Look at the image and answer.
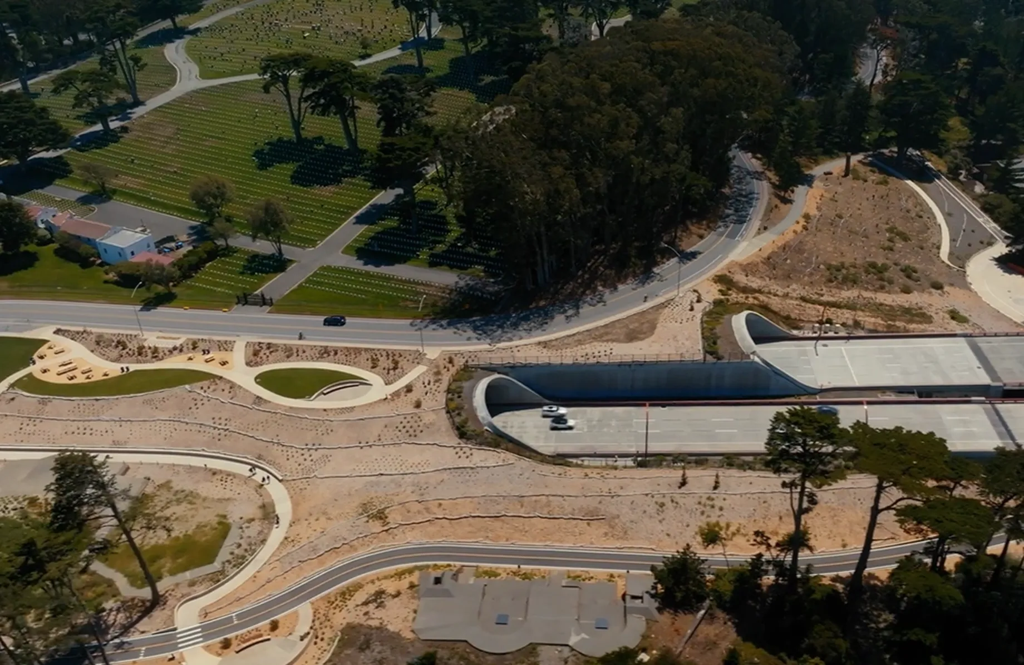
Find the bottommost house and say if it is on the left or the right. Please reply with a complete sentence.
The bottommost house sits on the left side.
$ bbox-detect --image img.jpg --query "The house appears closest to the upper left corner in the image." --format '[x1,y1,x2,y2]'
[39,208,157,265]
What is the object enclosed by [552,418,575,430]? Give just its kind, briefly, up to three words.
vehicle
